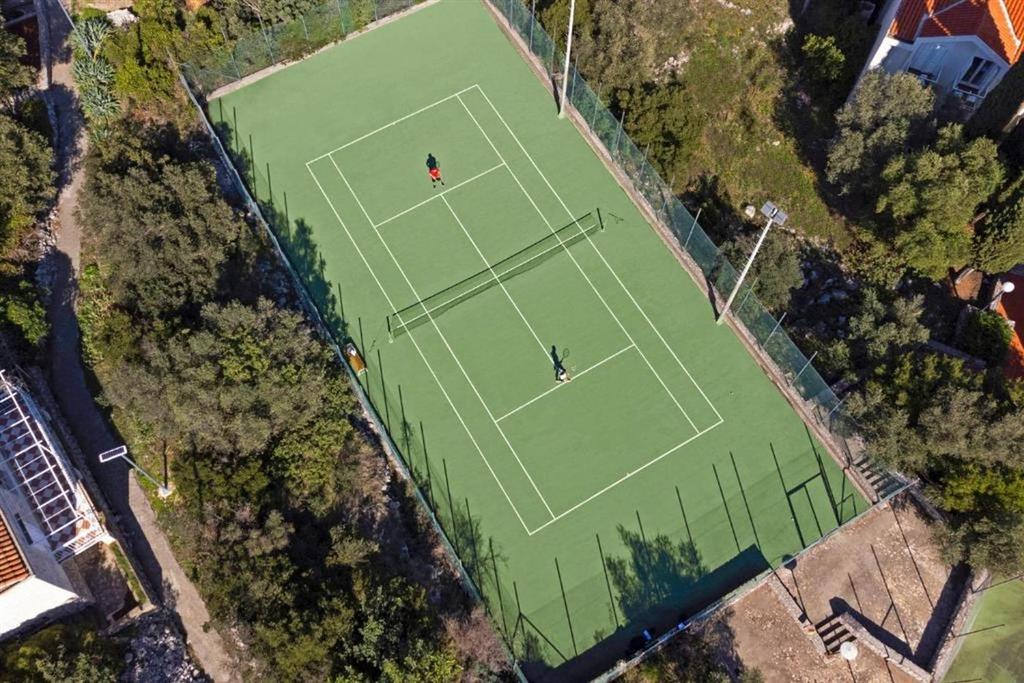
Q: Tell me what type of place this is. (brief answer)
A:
sports ground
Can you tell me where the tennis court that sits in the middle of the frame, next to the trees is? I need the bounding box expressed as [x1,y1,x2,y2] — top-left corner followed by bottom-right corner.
[198,0,870,683]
